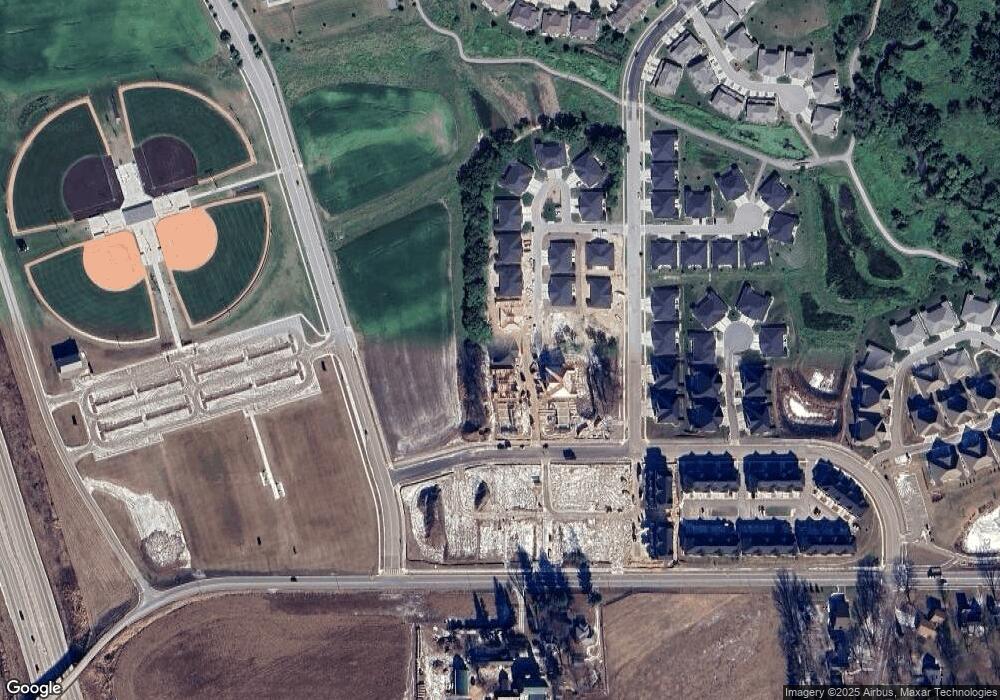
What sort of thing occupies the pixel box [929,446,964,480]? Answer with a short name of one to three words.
house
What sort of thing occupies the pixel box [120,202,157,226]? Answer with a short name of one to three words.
building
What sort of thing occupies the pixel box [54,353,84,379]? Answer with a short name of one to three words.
barn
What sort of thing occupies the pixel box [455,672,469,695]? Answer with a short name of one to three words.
shed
